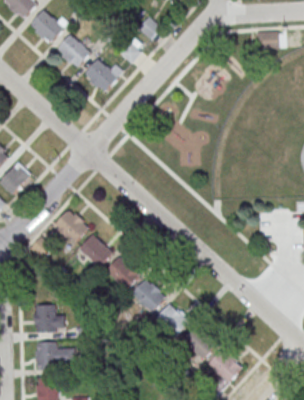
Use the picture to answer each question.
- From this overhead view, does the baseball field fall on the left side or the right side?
right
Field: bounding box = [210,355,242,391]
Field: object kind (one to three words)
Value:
house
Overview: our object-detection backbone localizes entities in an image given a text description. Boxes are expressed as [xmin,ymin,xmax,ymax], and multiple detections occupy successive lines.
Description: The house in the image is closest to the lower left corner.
[38,379,60,400]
